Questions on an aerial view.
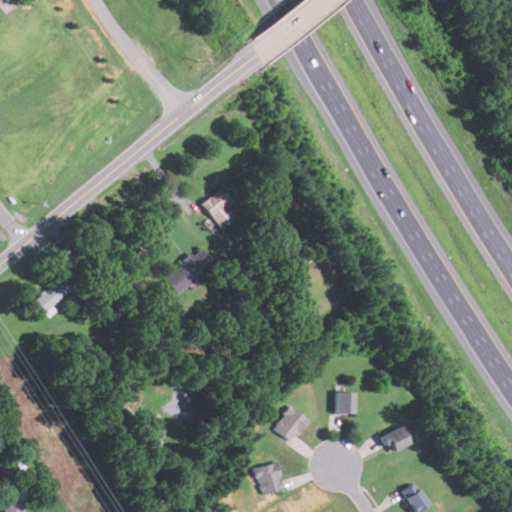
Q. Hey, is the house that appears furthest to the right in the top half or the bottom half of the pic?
bottom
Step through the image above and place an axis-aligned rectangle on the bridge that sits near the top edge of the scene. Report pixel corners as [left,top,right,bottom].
[249,0,356,68]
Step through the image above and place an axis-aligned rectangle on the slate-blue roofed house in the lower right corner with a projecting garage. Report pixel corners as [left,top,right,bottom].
[402,480,436,512]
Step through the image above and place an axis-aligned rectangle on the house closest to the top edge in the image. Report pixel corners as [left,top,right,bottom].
[200,192,232,226]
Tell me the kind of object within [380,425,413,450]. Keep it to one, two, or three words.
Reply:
house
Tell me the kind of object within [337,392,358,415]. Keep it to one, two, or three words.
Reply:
house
